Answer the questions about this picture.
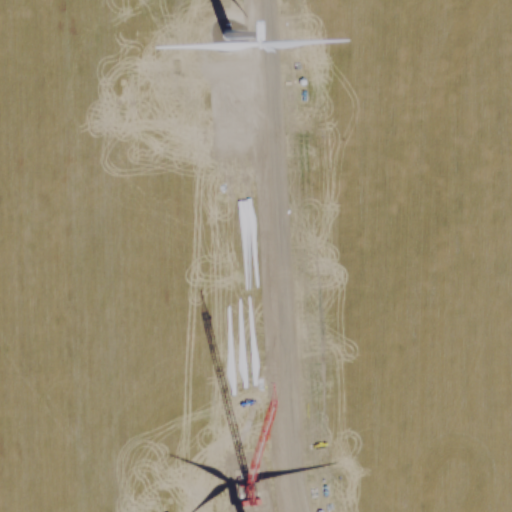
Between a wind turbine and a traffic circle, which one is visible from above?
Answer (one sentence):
Of the two, only a wind turbine appears.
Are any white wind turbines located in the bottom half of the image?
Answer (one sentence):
No, there's no white wind turbine to be seen in the bottom half of the image.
